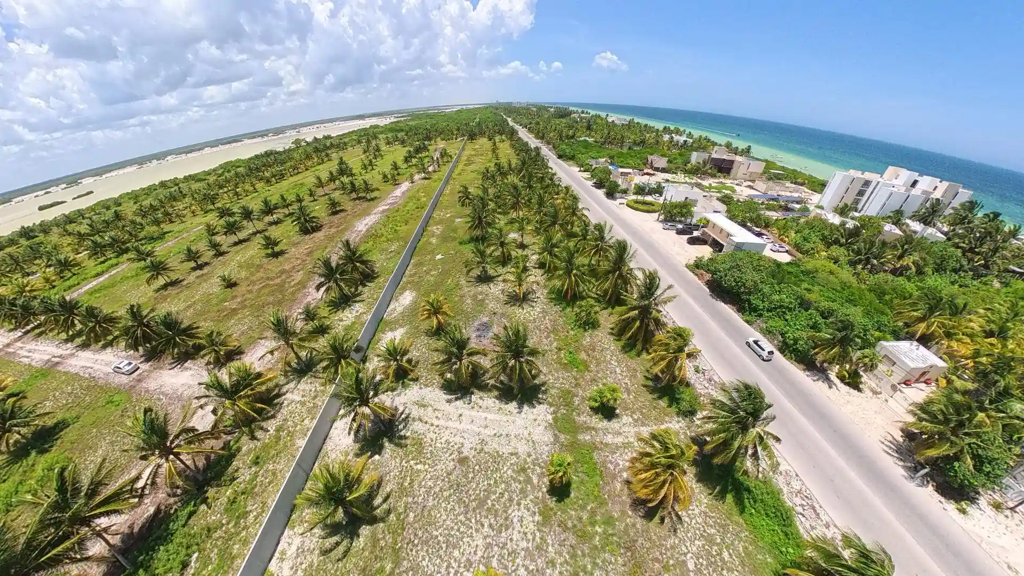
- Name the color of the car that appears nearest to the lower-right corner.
white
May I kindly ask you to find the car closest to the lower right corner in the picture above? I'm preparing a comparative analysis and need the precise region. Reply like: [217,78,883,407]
[748,337,779,362]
